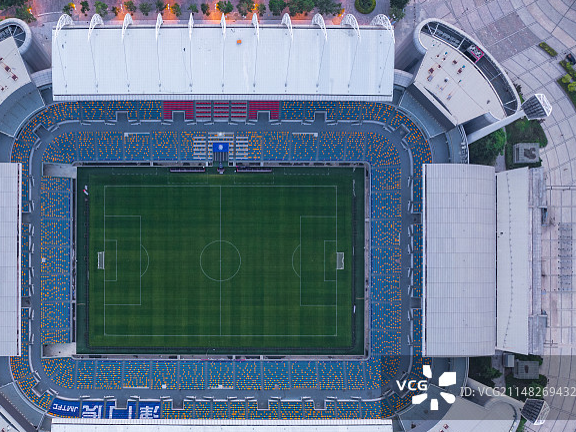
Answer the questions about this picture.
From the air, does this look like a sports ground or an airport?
sports ground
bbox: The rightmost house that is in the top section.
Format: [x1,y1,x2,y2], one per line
[510,142,540,165]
